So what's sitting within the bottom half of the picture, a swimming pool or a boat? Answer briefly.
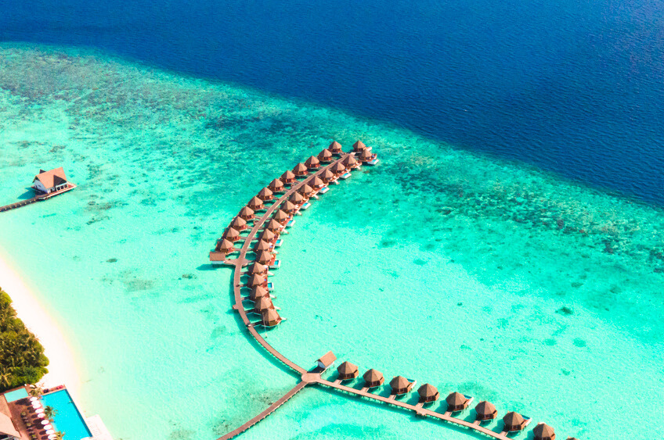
swimming pool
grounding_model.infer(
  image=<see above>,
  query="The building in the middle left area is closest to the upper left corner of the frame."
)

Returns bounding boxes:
[33,167,83,201]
